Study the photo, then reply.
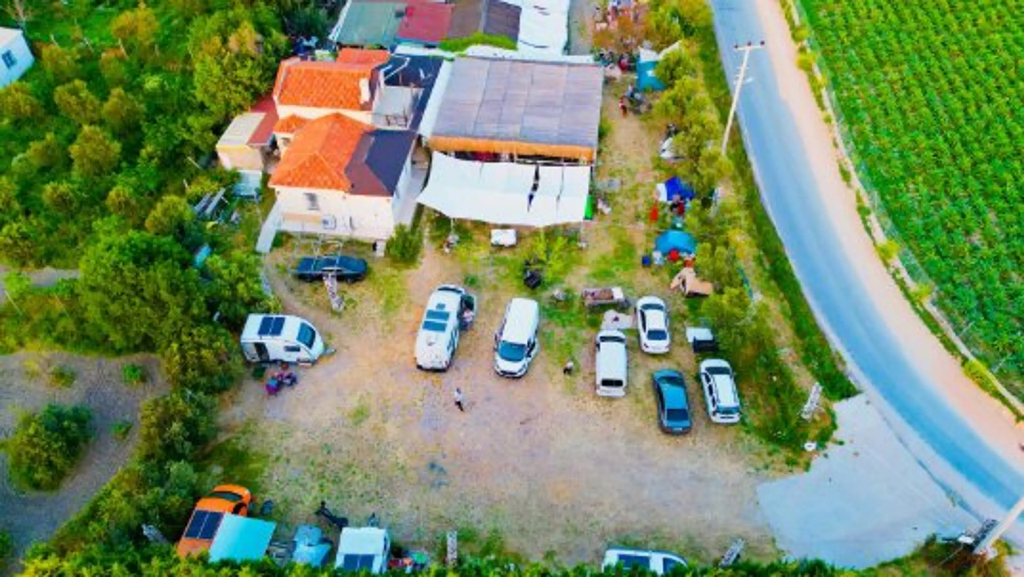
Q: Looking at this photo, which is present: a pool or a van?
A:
van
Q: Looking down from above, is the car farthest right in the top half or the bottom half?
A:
bottom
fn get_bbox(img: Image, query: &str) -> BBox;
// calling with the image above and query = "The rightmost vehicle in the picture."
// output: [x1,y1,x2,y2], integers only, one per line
[700,358,746,427]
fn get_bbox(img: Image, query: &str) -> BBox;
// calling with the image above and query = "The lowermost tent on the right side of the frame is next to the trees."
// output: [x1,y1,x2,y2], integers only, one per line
[670,269,713,297]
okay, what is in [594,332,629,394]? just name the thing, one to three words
van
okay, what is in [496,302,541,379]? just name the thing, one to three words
van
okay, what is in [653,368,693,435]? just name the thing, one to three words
car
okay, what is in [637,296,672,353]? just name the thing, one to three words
car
